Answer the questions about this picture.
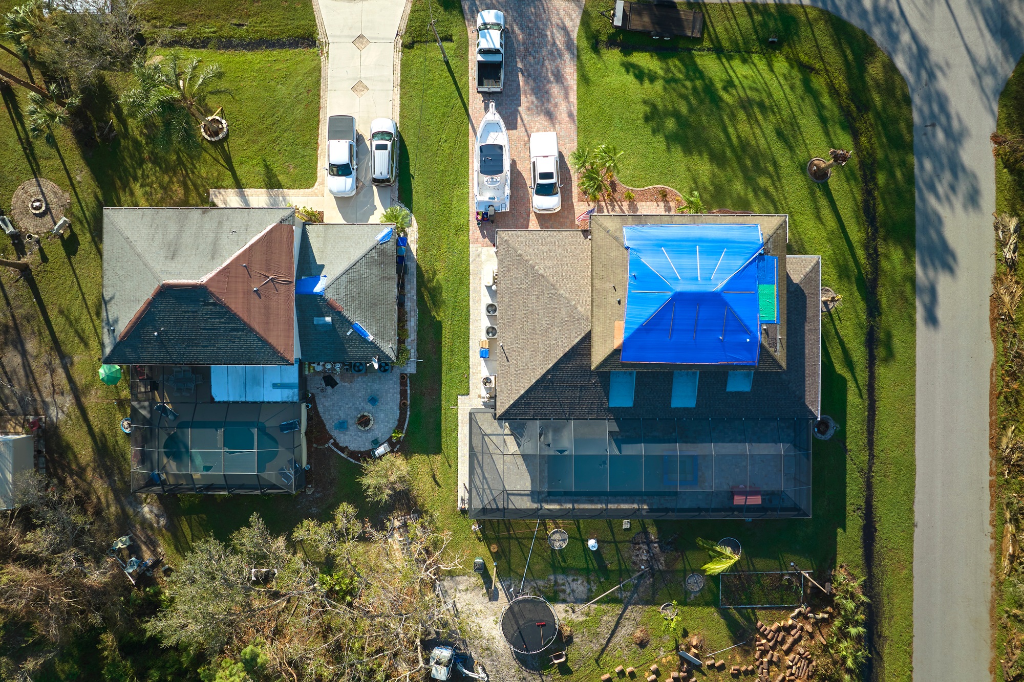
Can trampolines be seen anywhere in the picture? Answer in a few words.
Yes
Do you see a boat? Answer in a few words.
Yes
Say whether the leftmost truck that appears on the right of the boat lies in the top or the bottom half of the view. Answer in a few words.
top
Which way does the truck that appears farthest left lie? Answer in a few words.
vertically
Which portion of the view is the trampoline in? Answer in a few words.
bottom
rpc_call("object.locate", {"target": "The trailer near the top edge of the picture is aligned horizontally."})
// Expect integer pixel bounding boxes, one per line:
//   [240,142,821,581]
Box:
[602,0,701,45]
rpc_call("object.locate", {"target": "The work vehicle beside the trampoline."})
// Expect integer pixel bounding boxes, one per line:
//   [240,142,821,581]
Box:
[429,629,486,682]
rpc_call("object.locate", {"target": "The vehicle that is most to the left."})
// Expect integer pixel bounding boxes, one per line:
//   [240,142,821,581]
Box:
[324,116,359,199]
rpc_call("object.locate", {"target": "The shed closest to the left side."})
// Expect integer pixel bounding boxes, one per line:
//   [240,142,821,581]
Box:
[0,435,33,510]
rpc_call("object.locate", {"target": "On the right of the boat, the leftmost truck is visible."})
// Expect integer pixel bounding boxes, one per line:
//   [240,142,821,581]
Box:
[529,132,563,215]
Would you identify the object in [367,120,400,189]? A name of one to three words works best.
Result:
car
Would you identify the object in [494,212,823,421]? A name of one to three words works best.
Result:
house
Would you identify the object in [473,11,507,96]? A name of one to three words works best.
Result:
truck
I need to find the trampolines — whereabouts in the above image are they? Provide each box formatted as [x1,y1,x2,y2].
[502,593,560,659]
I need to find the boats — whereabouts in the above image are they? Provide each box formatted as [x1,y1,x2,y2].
[474,100,510,223]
